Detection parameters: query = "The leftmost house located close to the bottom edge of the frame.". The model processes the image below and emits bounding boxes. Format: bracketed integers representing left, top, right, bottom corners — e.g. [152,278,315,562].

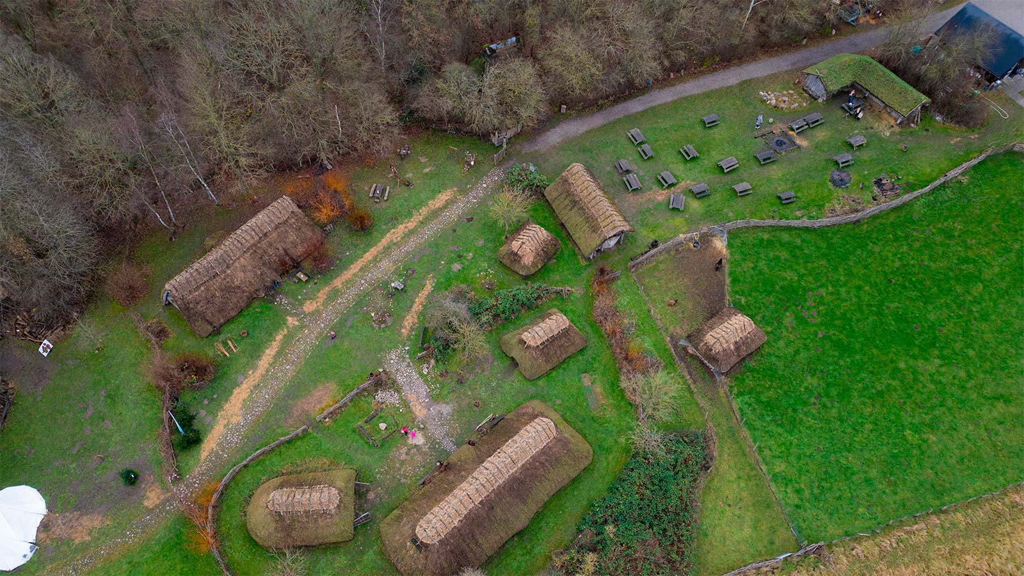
[246,470,356,548]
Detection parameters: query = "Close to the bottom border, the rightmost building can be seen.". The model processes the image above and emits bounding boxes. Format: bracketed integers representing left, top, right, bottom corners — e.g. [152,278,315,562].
[381,401,592,576]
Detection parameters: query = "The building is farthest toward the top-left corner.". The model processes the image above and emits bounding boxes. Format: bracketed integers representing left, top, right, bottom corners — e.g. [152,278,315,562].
[160,193,325,337]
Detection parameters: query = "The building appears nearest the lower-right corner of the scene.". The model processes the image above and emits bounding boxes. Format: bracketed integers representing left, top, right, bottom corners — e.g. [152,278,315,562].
[692,310,765,373]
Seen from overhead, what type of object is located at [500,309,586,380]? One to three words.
building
